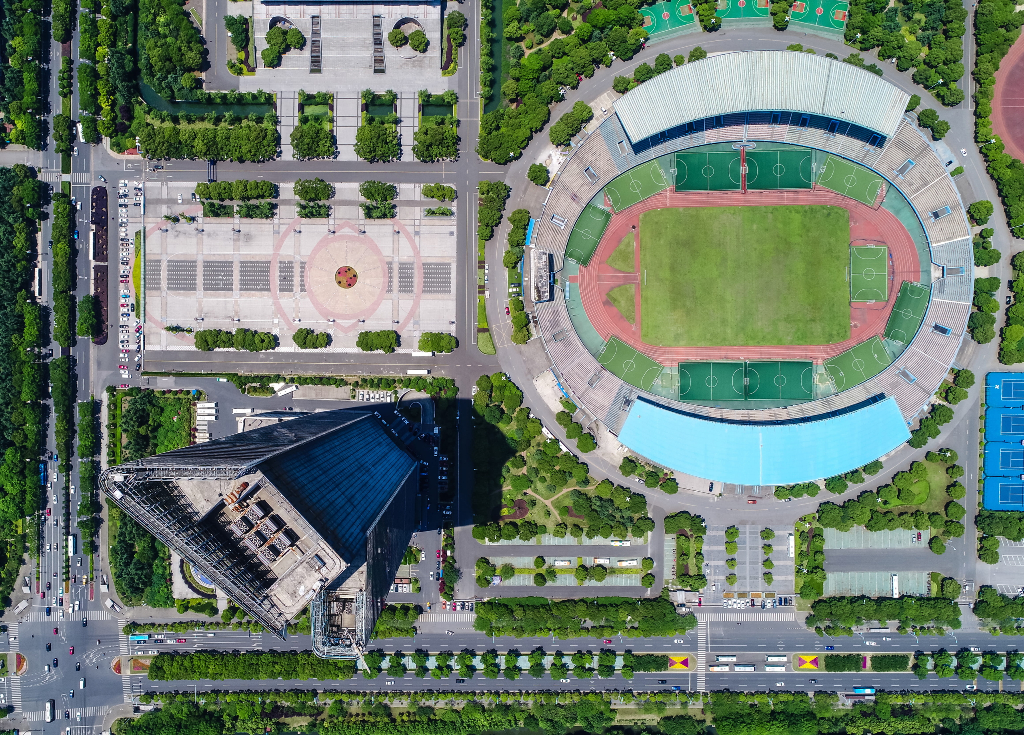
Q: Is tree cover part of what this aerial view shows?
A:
Yes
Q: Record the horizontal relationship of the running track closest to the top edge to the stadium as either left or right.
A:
right of it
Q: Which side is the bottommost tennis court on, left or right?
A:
right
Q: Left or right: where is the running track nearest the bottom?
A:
right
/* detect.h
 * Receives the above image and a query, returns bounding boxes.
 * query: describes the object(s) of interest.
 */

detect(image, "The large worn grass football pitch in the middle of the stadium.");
[640,205,850,346]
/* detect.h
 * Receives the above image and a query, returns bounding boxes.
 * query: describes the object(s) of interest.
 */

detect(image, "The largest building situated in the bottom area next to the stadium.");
[98,408,417,661]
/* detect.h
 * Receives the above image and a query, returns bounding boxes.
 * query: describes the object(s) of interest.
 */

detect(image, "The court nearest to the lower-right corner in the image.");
[983,477,1024,511]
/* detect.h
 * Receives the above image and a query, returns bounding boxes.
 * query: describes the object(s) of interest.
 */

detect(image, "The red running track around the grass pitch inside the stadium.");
[569,184,920,359]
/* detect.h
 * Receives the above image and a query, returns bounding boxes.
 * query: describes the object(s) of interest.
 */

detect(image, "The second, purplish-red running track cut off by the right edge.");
[991,35,1024,157]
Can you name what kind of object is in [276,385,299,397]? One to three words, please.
vehicle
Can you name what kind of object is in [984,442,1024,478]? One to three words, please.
tennis court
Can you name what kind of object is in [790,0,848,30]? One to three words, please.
basketball court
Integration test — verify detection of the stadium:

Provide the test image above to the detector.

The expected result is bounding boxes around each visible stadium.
[522,49,975,487]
